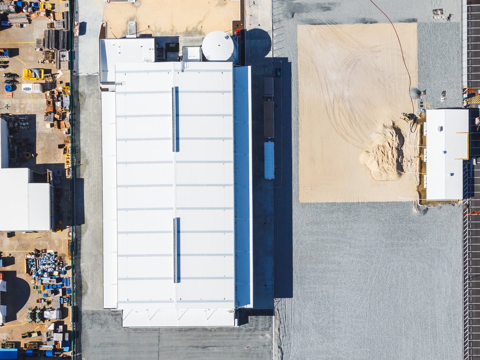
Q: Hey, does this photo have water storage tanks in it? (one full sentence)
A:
Yes, there's a water storage tank down there.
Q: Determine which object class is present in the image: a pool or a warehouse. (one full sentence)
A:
Visible in the photo is a warehouse.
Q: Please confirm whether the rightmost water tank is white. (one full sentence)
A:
Yes, the rightmost water tank is indeed white.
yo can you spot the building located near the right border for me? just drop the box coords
[422,109,469,202]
